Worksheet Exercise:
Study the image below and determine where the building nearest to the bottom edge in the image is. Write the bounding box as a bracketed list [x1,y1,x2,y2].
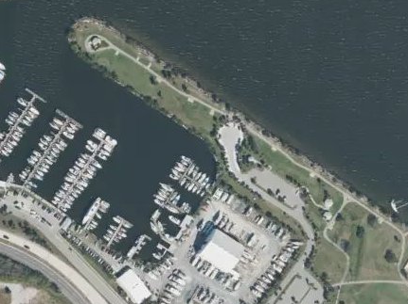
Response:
[114,268,150,304]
